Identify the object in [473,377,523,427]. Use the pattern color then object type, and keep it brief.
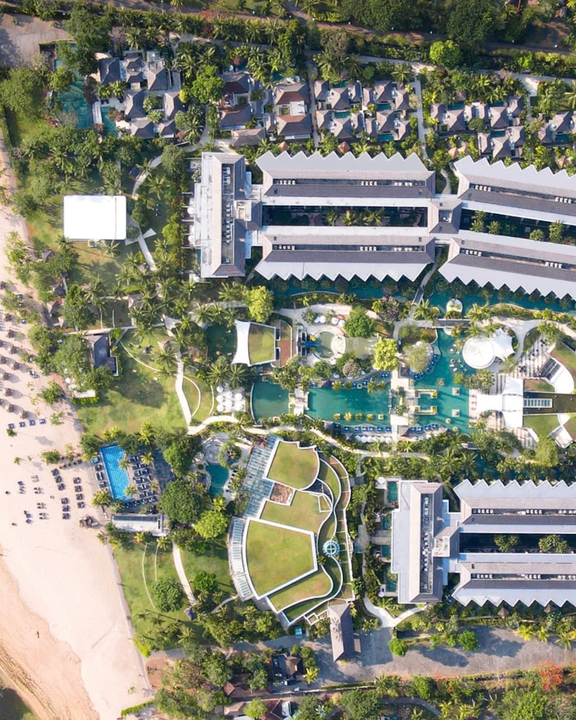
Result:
white tent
